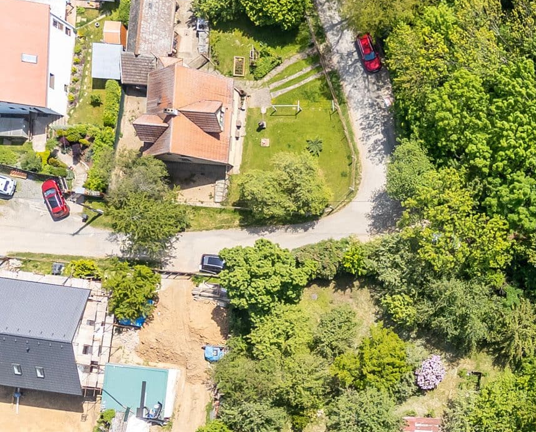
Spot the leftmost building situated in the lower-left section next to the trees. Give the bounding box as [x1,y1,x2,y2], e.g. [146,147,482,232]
[0,277,107,398]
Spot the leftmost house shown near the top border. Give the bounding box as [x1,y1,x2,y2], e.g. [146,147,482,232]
[0,0,77,114]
